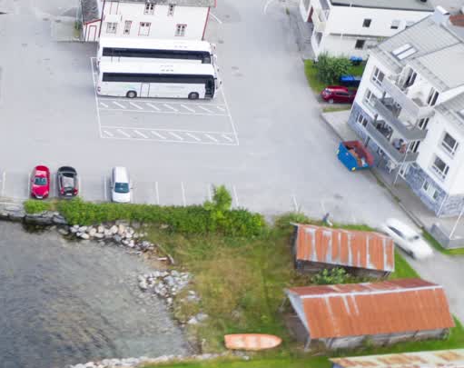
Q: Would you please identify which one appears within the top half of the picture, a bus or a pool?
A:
bus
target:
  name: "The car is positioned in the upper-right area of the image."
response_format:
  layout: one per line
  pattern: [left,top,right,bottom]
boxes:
[318,83,360,103]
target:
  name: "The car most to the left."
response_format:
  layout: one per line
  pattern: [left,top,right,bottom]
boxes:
[27,165,52,198]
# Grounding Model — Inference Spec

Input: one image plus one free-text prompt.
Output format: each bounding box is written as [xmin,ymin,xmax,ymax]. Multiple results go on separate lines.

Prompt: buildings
[278,278,462,353]
[348,11,464,216]
[78,0,216,45]
[288,221,397,277]
[328,351,464,368]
